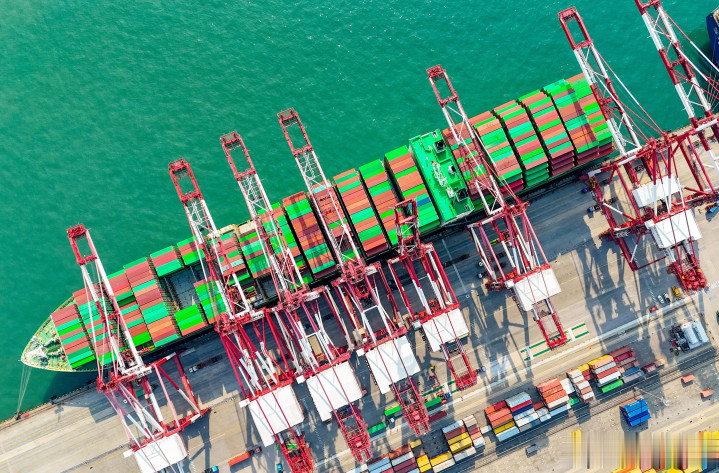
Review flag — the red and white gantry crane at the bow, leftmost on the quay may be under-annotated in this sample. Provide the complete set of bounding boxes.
[62,220,214,473]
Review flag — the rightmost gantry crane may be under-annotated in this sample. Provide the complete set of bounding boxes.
[637,0,719,246]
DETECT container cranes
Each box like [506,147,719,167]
[62,220,214,473]
[558,1,708,296]
[165,154,319,473]
[276,106,434,440]
[378,196,480,389]
[219,128,377,466]
[637,0,719,246]
[426,60,569,347]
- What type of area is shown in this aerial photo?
port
